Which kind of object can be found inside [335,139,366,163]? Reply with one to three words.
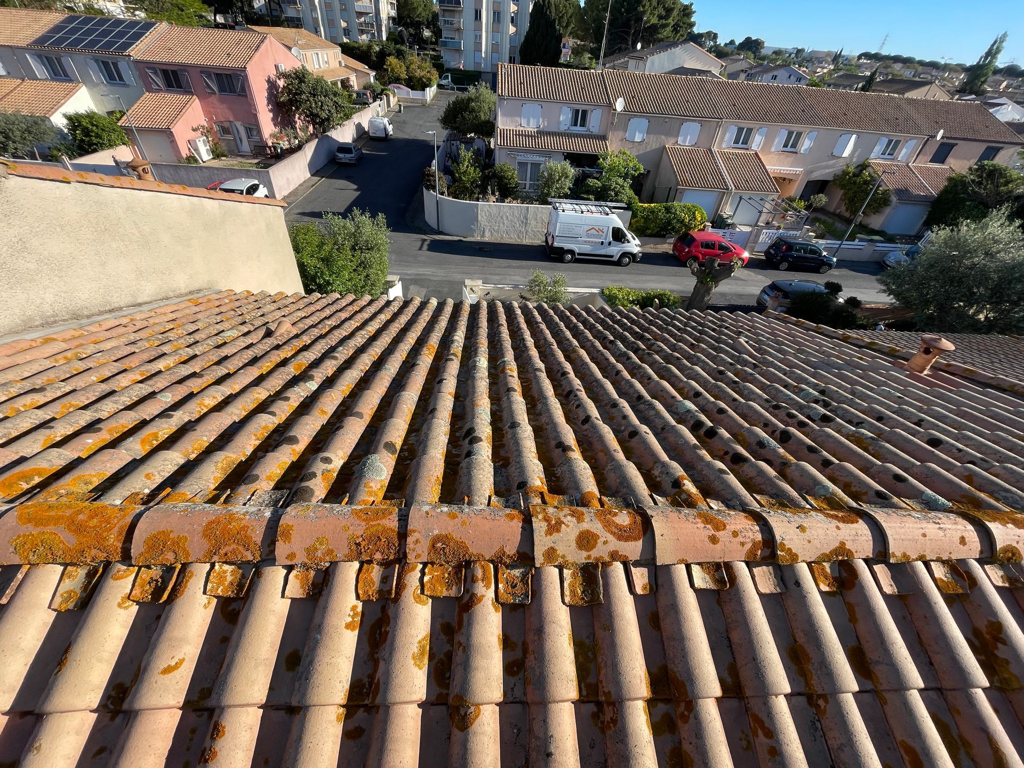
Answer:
car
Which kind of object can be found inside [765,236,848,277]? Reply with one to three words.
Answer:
car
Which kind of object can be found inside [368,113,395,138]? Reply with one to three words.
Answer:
vehicle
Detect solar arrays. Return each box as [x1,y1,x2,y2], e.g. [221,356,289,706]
[31,13,158,51]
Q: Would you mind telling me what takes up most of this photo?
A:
buildings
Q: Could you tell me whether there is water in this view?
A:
No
